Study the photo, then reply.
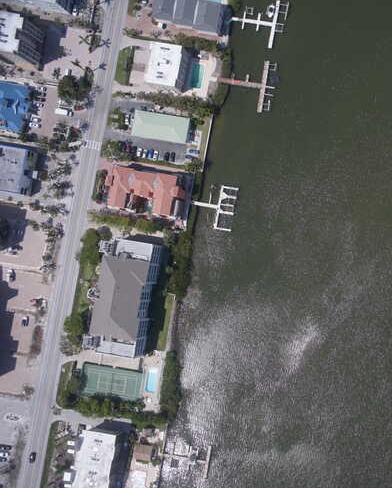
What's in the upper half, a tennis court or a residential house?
residential house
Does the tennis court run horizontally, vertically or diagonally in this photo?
horizontally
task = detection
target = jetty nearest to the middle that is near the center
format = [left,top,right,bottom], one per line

[196,184,240,232]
